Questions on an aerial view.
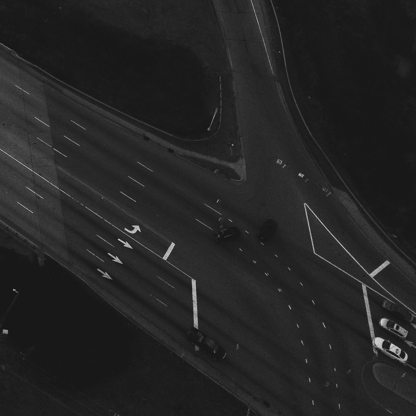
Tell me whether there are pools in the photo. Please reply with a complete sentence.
No, the frame has no pool in it.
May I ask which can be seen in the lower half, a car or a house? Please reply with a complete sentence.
Visible in the lower half is a car.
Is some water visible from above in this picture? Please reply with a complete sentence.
No, the picture contains no water.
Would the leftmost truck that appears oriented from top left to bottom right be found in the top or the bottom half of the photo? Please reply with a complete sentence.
The leftmost truck that appears oriented from top left to bottom right sits in the bottom half of the picture.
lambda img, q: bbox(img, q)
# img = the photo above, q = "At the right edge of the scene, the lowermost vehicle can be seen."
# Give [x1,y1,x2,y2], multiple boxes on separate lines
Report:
[371,336,409,364]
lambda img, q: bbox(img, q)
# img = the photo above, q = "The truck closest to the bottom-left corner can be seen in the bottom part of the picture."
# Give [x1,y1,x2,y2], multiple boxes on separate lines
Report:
[179,319,234,368]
